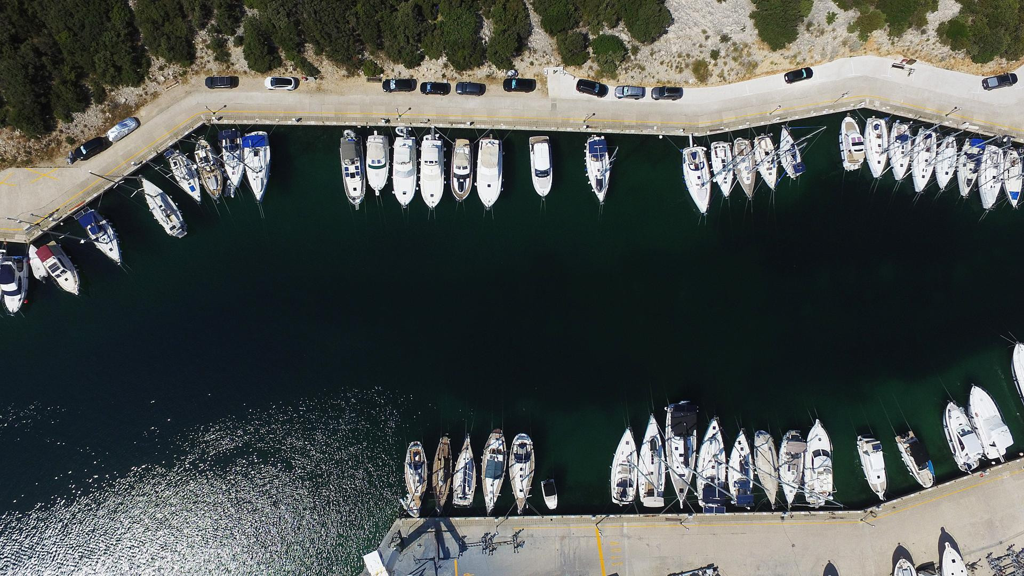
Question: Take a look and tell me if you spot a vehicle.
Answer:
Yes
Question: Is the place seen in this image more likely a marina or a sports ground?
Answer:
marina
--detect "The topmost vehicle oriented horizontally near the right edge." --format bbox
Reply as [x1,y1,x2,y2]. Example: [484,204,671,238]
[980,72,1017,91]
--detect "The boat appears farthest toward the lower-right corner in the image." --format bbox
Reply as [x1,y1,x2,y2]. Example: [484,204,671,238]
[934,539,972,576]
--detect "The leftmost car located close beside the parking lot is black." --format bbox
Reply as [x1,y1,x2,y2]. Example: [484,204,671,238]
[503,77,534,94]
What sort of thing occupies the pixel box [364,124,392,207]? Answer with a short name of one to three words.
boat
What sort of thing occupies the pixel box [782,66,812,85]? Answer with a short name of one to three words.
car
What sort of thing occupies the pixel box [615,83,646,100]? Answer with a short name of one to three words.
car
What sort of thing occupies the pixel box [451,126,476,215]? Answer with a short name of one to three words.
boat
